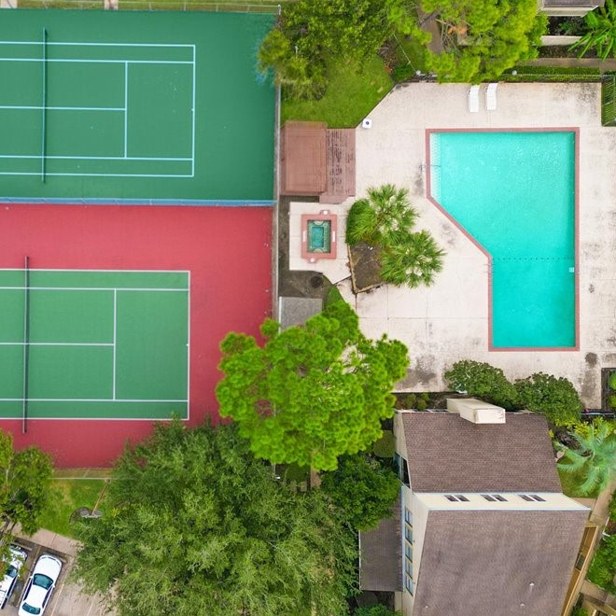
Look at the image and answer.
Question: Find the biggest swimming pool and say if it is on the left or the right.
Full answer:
You can find the biggest swimming pool on the right side of the picture.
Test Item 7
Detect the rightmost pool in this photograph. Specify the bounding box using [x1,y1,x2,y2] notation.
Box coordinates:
[426,127,580,351]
